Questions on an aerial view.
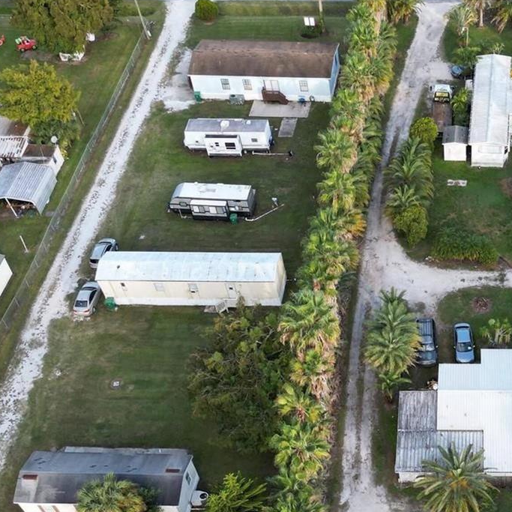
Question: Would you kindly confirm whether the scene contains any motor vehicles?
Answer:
Yes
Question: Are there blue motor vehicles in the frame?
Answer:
Yes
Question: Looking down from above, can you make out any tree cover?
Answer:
Yes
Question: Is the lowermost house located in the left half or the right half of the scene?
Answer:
left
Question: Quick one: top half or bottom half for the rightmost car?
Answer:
bottom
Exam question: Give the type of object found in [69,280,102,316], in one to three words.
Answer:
car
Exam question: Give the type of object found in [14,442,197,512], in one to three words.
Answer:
house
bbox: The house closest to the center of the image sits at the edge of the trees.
[95,251,285,305]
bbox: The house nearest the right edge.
[470,50,512,164]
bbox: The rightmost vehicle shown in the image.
[453,322,476,363]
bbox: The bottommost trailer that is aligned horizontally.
[170,183,269,220]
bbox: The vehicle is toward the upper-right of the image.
[432,87,451,121]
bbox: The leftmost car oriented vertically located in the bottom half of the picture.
[416,315,438,363]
